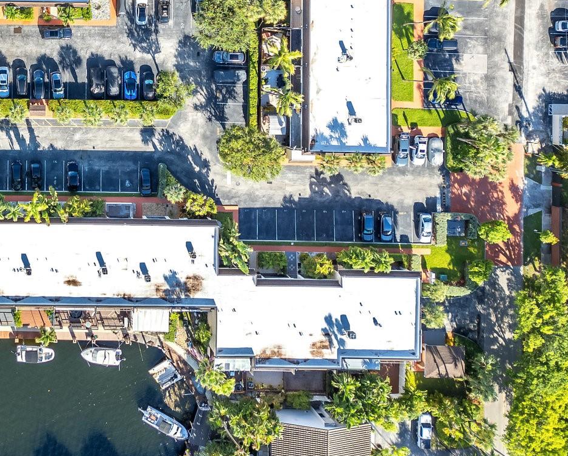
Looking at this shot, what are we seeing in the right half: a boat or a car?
car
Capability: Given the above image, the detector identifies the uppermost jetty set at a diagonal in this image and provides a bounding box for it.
[129,333,210,407]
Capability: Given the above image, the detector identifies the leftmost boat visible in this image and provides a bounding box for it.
[14,346,56,363]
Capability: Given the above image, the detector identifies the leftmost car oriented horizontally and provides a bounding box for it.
[42,26,72,41]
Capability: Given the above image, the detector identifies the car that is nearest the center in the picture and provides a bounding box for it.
[359,211,377,242]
